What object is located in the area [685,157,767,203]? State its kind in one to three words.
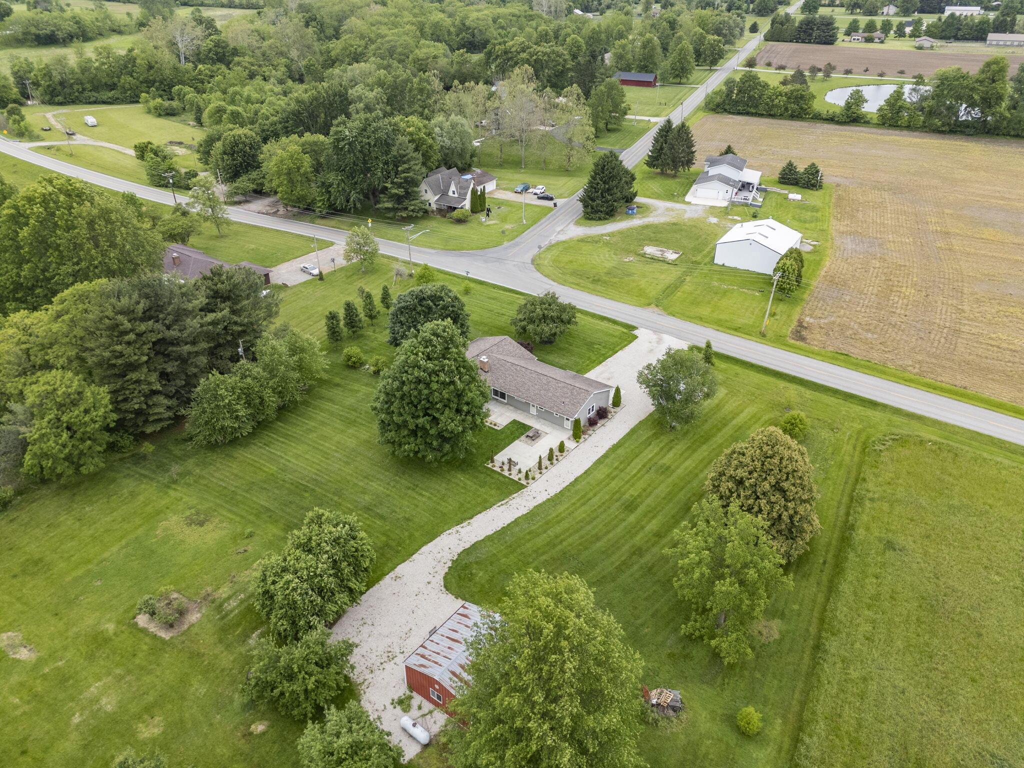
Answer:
house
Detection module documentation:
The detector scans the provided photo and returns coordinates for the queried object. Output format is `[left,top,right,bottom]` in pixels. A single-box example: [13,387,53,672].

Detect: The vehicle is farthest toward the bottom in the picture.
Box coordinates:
[300,263,319,275]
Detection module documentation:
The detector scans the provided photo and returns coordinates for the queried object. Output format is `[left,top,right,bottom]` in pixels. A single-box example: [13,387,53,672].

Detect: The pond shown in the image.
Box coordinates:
[825,84,992,120]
